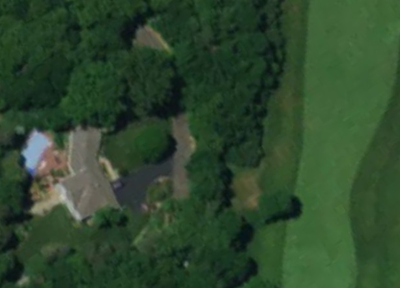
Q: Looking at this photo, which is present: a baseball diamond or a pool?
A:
pool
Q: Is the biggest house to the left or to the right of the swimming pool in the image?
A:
on its right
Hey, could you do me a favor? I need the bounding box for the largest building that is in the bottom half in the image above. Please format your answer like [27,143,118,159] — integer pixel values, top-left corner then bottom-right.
[58,123,123,224]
